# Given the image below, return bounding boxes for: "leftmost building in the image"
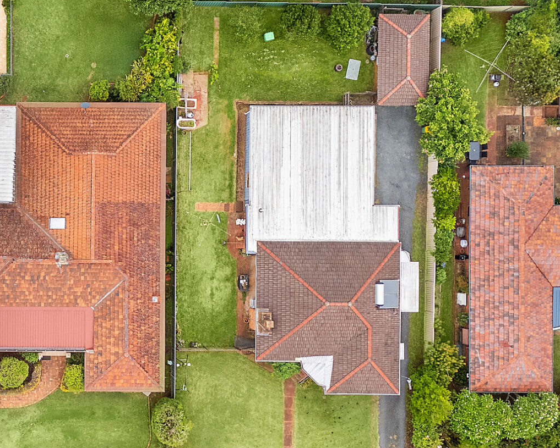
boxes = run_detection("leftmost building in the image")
[0,101,168,402]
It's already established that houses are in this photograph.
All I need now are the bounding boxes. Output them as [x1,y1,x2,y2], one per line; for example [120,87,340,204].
[245,105,428,396]
[465,164,560,394]
[0,101,168,402]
